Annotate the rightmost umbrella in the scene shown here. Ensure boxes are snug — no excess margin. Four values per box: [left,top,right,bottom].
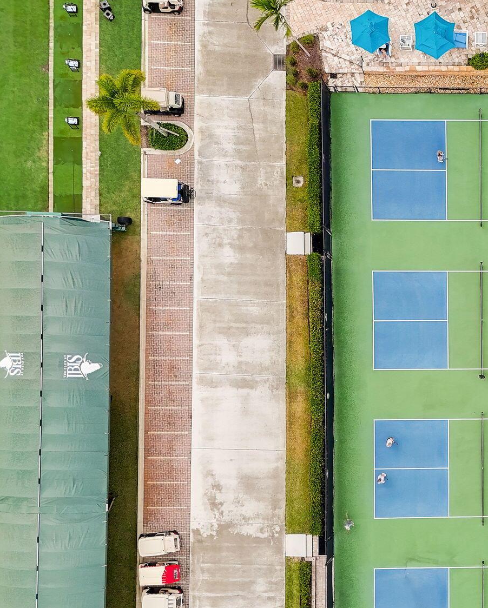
[414,12,456,60]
